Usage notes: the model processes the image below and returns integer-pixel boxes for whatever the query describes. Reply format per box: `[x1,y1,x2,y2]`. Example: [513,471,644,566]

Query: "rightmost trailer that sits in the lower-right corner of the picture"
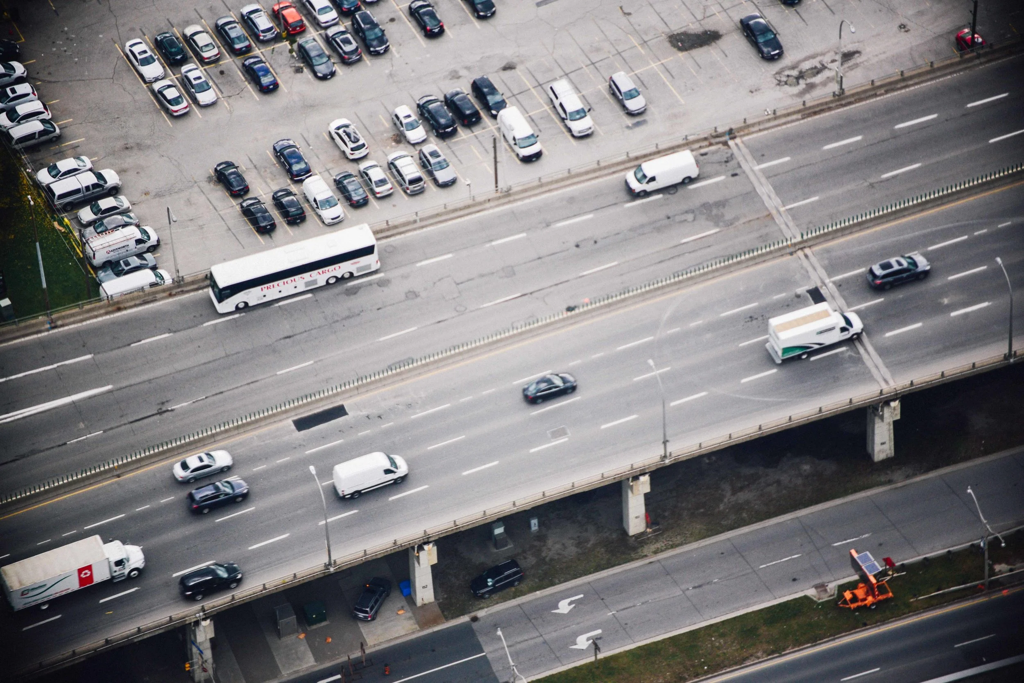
[835,549,894,613]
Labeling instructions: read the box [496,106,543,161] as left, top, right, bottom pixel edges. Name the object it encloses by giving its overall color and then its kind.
white van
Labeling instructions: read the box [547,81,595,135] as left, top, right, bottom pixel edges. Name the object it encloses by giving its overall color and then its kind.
white truck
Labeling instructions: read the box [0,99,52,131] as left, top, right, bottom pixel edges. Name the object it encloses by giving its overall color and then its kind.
white car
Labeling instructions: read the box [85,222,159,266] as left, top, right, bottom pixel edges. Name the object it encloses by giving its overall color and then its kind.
white van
